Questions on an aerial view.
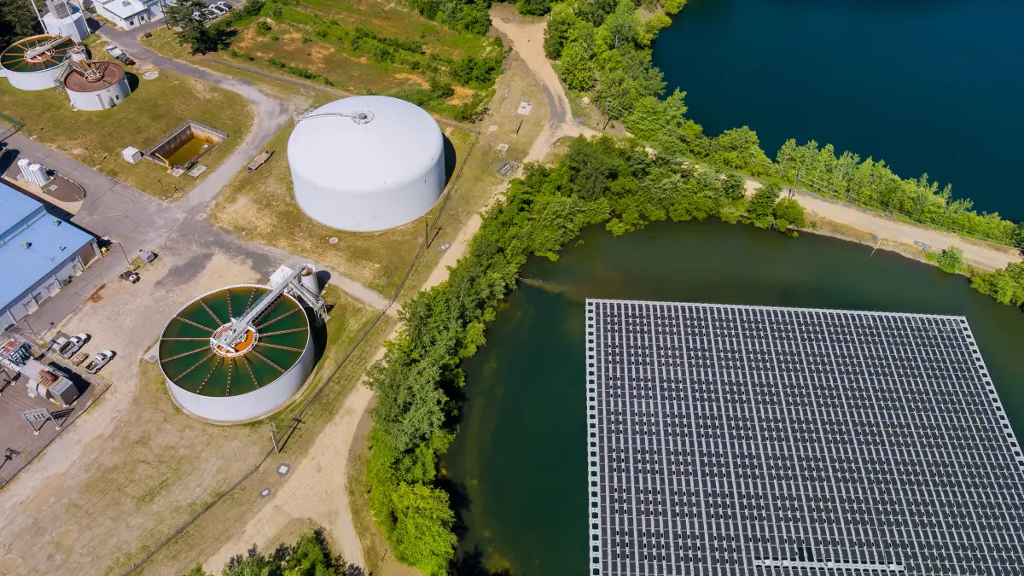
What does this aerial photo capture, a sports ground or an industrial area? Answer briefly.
industrial area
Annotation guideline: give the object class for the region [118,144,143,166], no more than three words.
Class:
shed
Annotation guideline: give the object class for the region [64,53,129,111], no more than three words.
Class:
storage tank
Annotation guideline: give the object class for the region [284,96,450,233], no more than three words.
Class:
storage tank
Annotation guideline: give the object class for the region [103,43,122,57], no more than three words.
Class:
vehicle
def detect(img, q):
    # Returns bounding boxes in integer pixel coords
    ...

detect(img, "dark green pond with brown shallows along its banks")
[440,222,1024,576]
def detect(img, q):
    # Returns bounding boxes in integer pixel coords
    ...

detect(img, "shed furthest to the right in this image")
[266,268,297,299]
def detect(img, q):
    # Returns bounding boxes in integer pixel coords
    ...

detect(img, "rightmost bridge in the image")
[213,263,309,352]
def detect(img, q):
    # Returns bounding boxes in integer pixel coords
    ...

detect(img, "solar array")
[586,298,1024,576]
